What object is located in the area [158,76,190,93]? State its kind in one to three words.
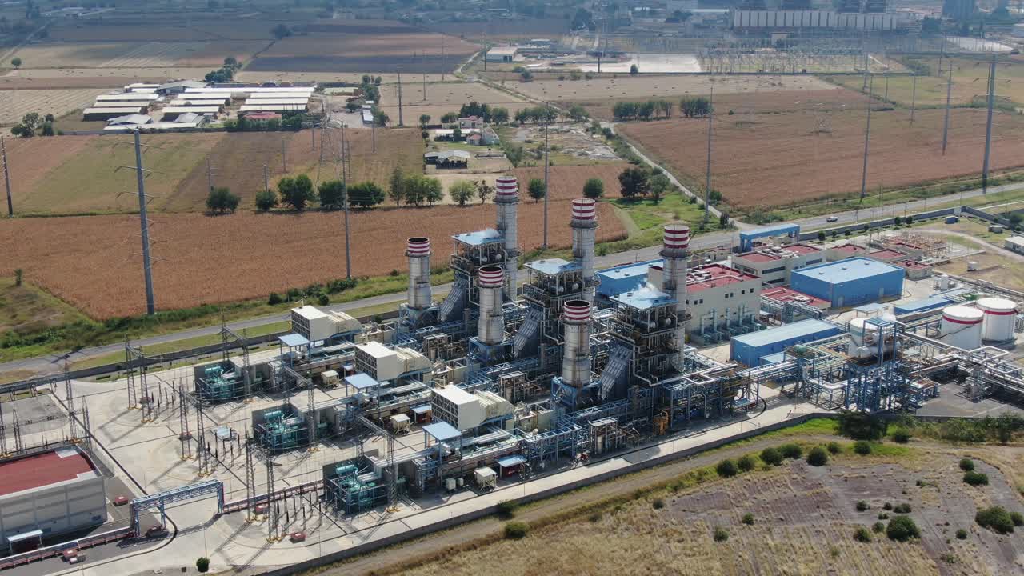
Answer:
shed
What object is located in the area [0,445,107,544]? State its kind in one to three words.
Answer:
building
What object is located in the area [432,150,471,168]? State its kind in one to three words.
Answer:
shed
